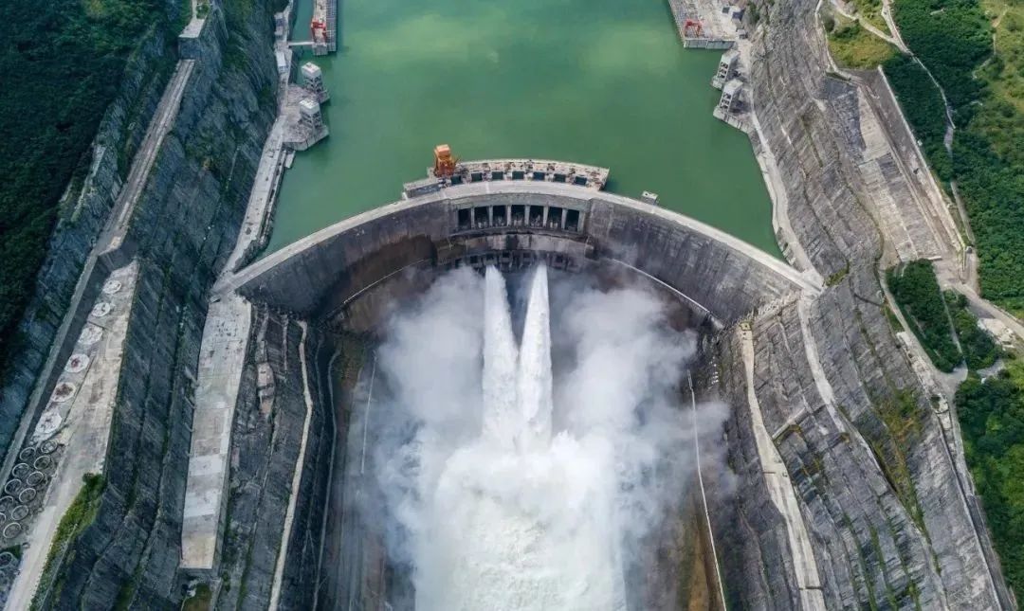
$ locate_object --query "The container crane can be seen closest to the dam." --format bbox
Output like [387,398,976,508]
[430,144,464,181]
